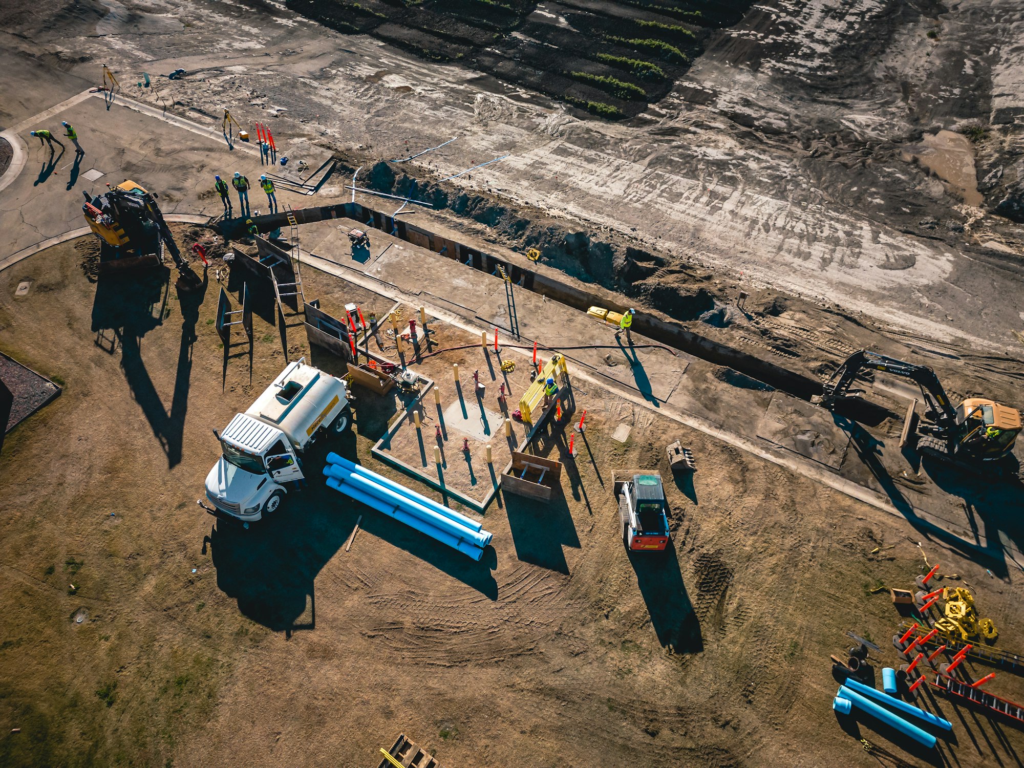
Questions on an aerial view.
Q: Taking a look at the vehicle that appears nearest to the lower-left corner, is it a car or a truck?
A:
truck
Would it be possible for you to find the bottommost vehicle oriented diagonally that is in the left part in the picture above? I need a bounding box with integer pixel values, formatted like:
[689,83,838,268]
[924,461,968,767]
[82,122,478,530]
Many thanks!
[180,347,358,531]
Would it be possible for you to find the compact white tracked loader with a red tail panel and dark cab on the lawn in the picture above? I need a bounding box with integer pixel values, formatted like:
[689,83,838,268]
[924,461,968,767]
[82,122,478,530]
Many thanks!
[609,474,677,553]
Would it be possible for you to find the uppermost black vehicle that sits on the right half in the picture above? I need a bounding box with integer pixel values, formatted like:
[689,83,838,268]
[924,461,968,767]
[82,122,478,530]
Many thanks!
[804,339,1024,489]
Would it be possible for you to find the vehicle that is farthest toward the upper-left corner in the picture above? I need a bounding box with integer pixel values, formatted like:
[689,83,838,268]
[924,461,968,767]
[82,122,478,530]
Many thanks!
[90,163,200,294]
